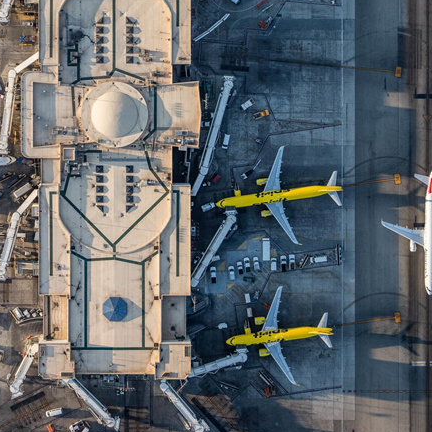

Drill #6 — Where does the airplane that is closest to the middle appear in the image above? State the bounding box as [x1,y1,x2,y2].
[216,143,344,248]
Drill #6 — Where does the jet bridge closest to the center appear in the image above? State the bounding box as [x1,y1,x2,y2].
[191,205,240,288]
